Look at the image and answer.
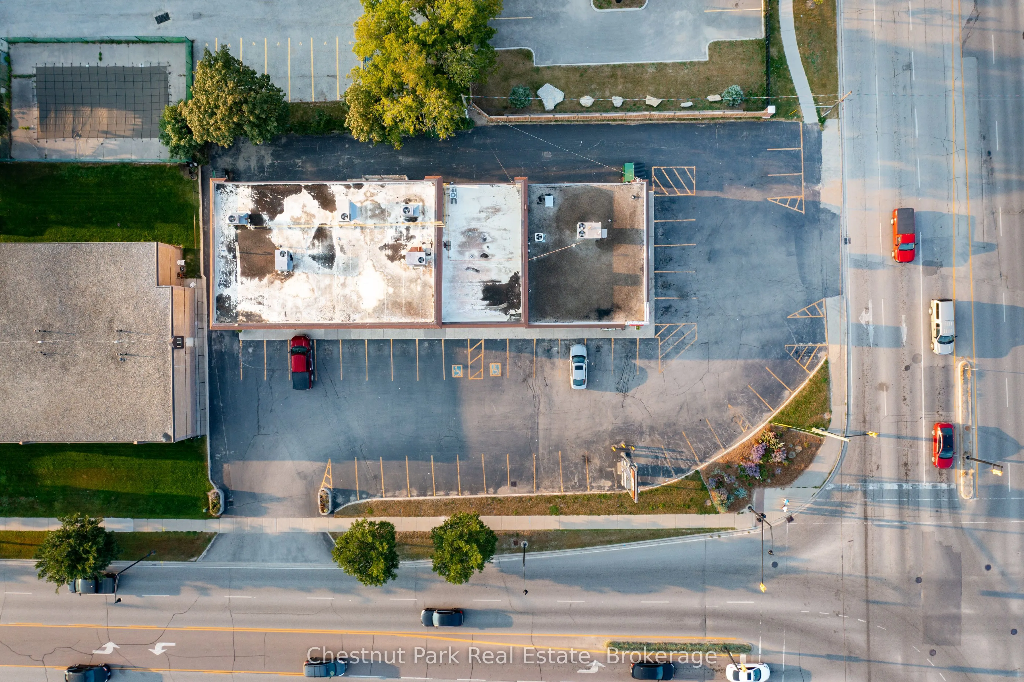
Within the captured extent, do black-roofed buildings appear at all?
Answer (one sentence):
No, no black-roofed building is visible in the scene.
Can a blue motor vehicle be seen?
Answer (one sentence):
Yes, a blue motor vehicle appears in the view.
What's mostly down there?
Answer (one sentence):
The scene is dominated by paved ground.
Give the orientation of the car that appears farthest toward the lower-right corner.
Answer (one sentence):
In this picture, the car that appears farthest toward the lower-right corner is oriented vertically.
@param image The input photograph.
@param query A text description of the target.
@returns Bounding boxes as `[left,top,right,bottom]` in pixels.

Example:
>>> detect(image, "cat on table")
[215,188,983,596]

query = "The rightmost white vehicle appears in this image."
[929,299,955,355]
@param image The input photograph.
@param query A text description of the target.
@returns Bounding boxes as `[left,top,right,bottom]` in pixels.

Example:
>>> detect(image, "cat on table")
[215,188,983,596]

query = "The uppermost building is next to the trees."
[210,176,649,329]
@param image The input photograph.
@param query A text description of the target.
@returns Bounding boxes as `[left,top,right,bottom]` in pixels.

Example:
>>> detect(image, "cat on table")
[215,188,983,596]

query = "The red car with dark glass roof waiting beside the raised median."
[931,422,956,470]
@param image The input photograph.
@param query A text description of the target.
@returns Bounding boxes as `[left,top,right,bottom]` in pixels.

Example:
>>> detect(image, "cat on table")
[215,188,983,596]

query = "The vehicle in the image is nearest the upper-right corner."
[892,208,918,263]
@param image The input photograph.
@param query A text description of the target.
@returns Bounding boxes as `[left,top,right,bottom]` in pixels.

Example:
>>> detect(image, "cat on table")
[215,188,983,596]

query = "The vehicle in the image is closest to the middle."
[569,342,590,390]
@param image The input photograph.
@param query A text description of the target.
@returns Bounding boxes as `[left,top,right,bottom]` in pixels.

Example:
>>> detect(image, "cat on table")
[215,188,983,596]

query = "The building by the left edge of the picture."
[0,242,197,446]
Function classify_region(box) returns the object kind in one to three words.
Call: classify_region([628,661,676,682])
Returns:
car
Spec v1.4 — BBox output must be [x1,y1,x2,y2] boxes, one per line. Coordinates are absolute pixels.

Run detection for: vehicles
[64,663,114,682]
[931,422,956,470]
[302,657,350,680]
[929,299,955,355]
[569,342,590,390]
[66,574,120,597]
[628,661,676,682]
[419,607,465,630]
[892,208,918,263]
[723,663,770,682]
[289,334,313,390]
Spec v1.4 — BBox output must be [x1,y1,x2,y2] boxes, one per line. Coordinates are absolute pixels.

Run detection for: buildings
[210,176,649,329]
[0,242,197,446]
